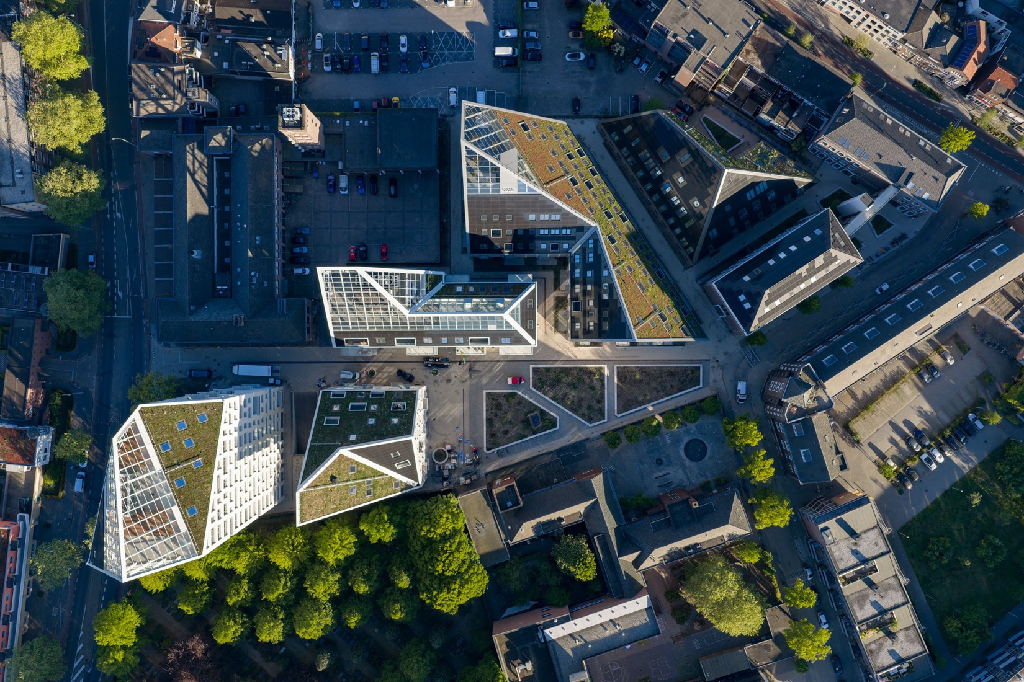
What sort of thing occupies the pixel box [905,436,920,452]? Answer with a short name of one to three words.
car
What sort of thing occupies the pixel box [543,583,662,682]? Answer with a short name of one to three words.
building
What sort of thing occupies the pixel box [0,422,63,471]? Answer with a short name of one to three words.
house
